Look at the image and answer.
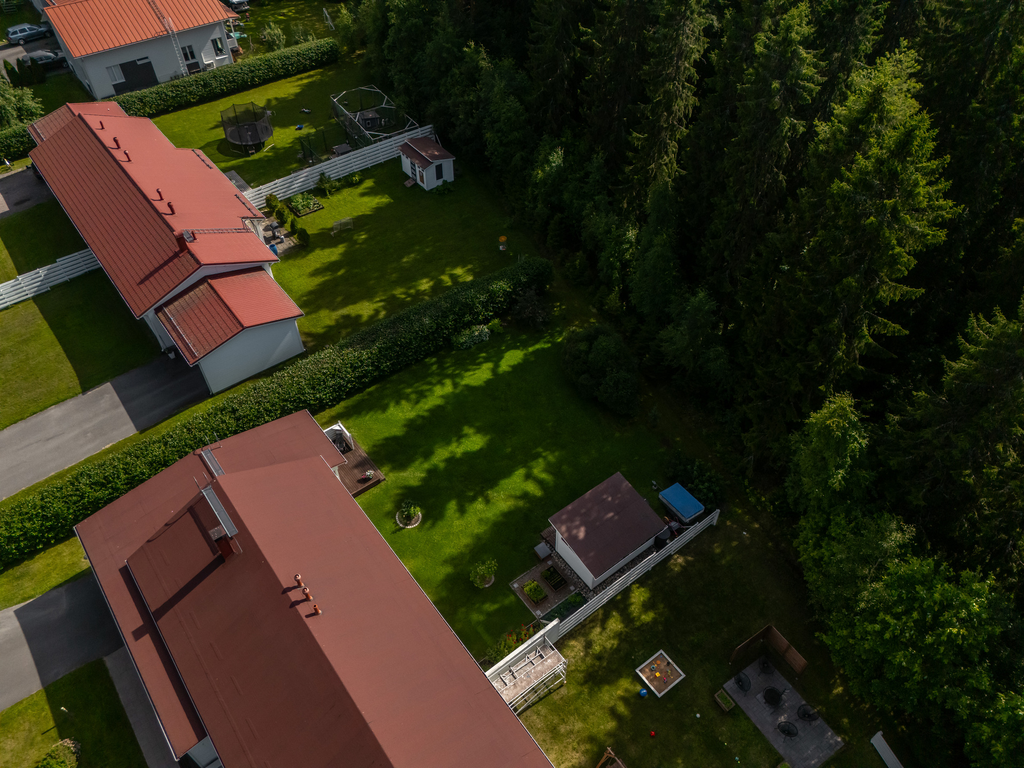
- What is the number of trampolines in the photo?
1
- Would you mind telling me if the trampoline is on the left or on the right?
left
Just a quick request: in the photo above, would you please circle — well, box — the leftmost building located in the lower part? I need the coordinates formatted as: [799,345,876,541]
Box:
[74,409,559,768]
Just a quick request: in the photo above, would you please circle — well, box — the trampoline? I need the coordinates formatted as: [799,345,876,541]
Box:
[215,102,273,163]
